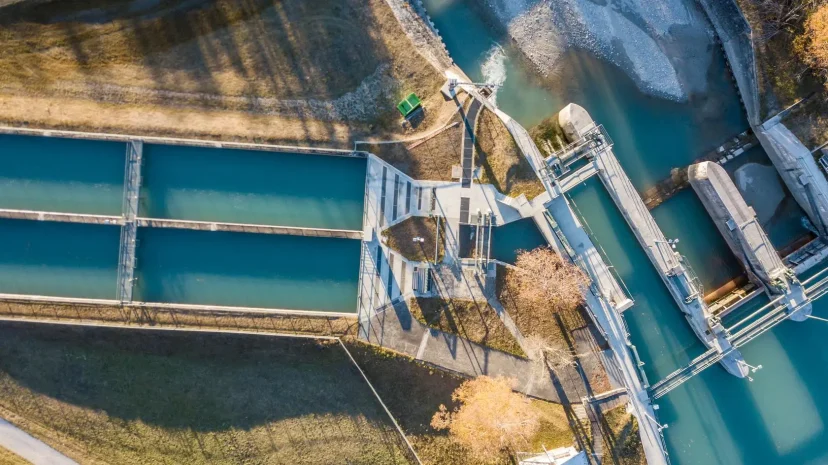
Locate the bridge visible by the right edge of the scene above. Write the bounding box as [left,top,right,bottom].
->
[648,268,828,411]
